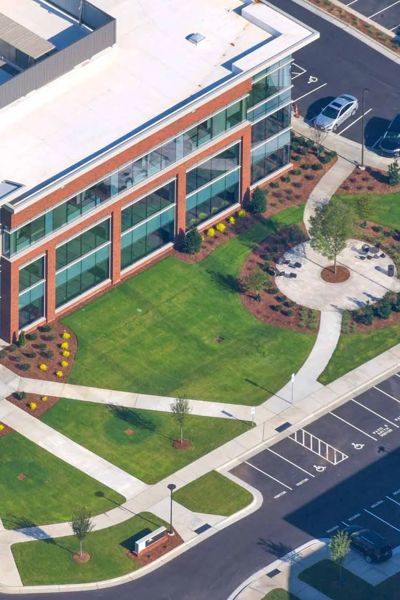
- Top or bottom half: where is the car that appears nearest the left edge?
top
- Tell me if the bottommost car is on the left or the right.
right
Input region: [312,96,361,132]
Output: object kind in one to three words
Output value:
car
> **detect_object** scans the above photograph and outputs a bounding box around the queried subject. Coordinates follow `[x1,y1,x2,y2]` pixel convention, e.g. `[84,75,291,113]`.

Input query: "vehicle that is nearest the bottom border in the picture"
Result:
[346,527,395,565]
